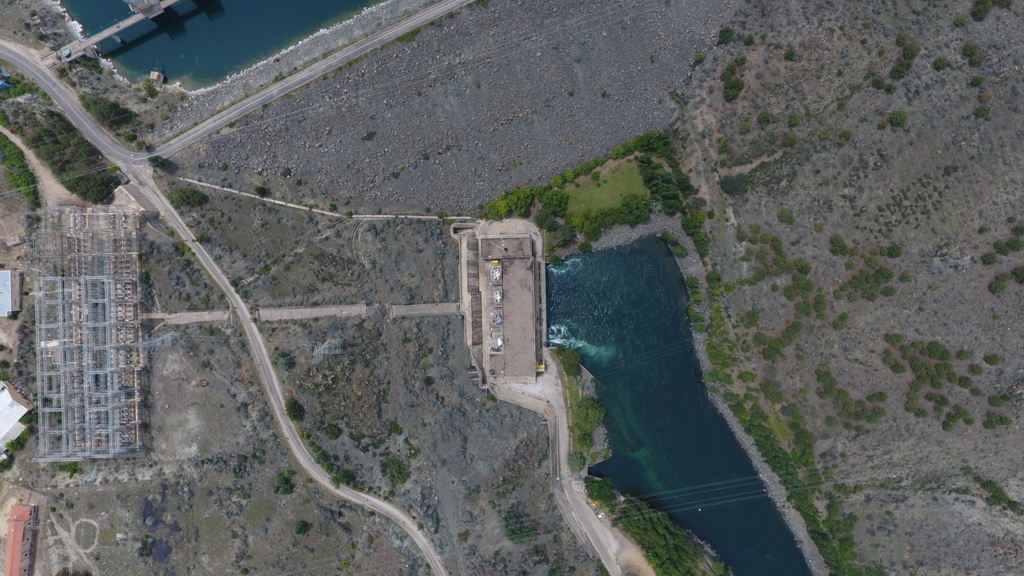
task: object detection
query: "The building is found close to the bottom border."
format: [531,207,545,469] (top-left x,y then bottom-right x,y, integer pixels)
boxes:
[4,502,38,576]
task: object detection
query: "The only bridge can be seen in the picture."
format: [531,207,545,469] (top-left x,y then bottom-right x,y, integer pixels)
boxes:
[41,0,189,69]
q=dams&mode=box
[150,0,736,215]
